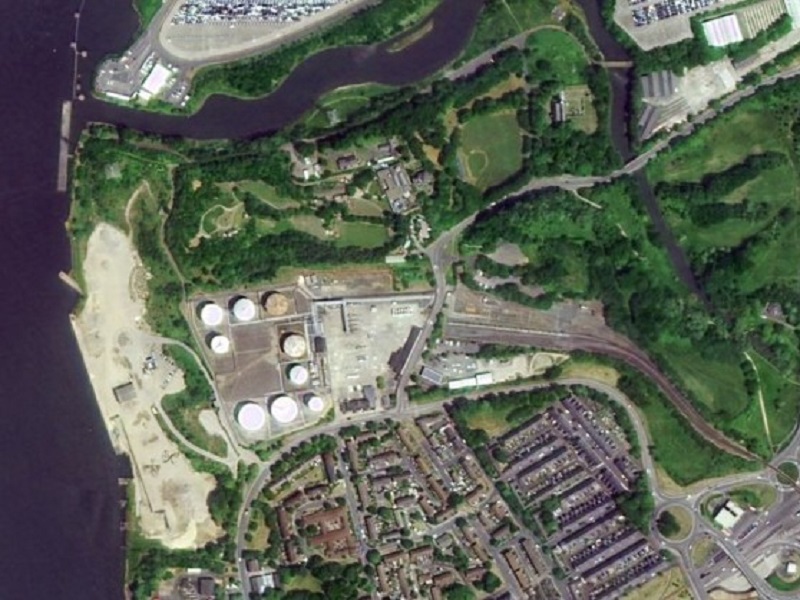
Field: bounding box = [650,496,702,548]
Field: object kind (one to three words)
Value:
roundabout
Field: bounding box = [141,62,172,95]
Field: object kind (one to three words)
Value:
building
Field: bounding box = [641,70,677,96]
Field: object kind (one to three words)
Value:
shed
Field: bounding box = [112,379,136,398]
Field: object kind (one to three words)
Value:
building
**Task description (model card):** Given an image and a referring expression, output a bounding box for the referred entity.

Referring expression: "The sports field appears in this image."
[459,108,522,191]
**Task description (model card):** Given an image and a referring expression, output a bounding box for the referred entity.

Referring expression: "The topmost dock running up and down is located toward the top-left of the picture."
[58,101,71,191]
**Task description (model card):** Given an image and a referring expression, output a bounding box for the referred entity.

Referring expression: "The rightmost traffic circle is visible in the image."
[770,455,800,491]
